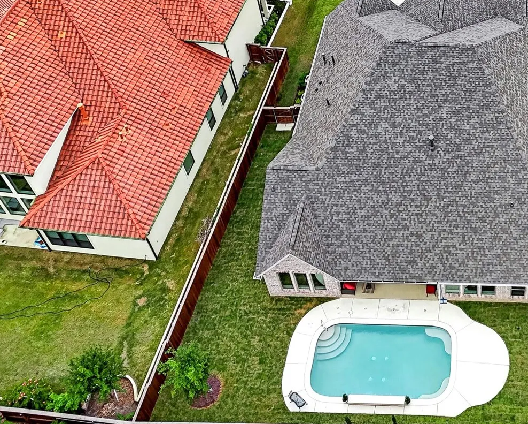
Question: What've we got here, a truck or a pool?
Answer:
pool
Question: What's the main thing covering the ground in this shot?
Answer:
buildings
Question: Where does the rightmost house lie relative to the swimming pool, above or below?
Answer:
above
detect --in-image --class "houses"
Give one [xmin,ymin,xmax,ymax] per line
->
[0,0,278,262]
[252,0,528,309]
